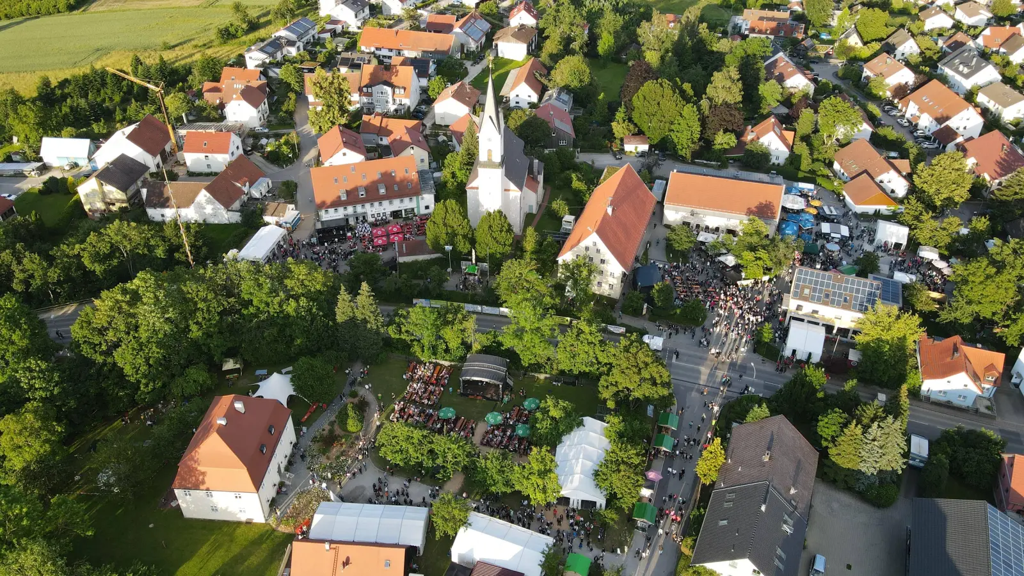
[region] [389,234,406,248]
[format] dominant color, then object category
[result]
red umbrella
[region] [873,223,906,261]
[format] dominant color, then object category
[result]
white tent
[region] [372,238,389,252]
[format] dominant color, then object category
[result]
red umbrella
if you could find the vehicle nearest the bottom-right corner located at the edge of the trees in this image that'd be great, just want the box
[908,430,935,471]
